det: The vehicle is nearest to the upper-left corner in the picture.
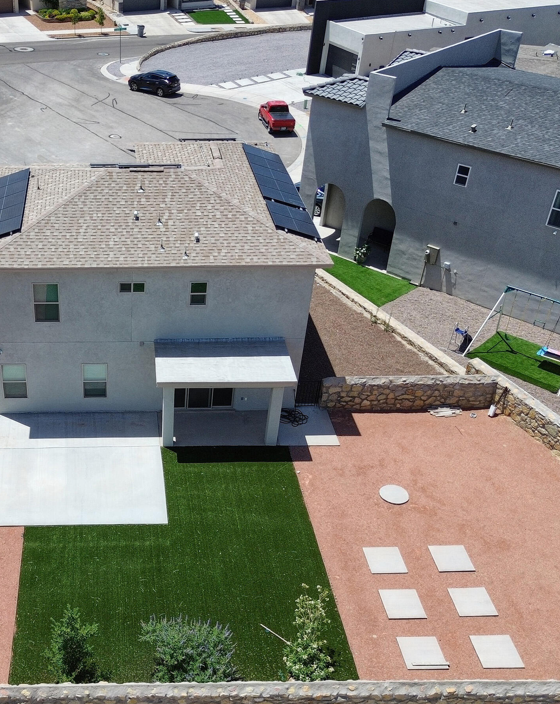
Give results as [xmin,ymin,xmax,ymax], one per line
[129,68,183,96]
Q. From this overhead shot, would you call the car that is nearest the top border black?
Yes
